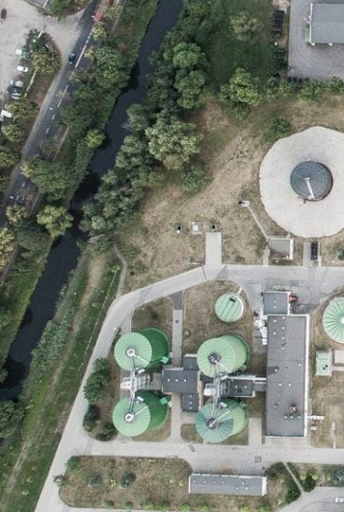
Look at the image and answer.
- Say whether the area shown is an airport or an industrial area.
industrial area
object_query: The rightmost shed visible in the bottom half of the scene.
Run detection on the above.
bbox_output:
[316,350,331,376]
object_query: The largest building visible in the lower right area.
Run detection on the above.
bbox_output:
[266,315,324,437]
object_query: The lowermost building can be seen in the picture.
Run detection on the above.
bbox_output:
[190,471,270,496]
